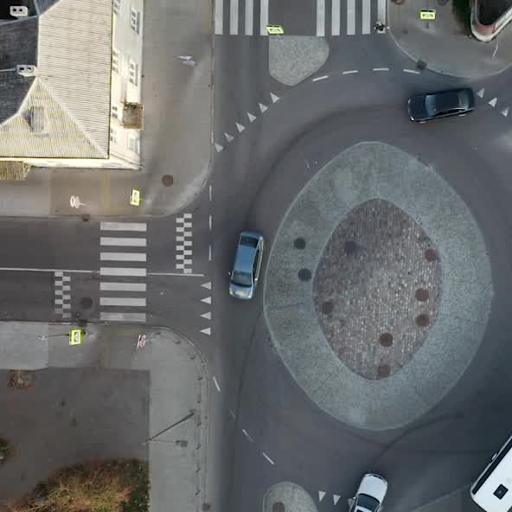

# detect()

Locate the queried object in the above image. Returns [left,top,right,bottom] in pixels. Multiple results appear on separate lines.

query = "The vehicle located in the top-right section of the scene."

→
[406,87,476,123]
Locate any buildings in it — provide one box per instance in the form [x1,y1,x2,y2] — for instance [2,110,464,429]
[469,0,512,43]
[0,0,147,177]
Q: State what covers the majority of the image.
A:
paved ground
